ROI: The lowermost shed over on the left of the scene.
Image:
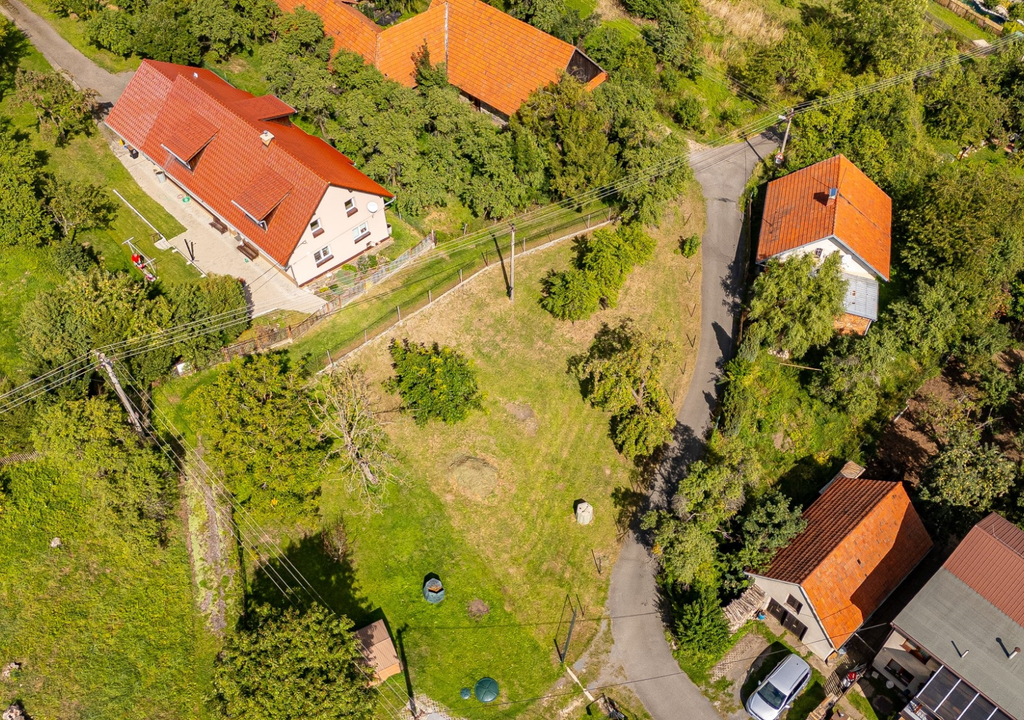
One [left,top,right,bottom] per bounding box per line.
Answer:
[355,619,401,685]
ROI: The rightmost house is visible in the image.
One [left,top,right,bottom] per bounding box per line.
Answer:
[876,511,1024,720]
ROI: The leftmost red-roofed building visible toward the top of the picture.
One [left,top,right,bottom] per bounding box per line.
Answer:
[104,59,399,289]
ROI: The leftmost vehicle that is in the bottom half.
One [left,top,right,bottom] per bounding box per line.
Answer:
[744,651,813,720]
